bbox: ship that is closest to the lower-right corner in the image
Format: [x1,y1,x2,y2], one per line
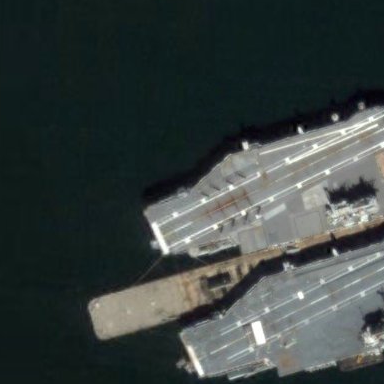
[339,352,383,373]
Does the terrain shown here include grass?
No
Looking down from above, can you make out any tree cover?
No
